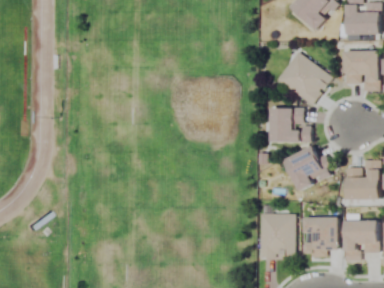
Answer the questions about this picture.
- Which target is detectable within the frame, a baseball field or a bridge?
baseball field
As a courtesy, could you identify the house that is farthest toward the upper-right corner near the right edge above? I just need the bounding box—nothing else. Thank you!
[343,0,384,41]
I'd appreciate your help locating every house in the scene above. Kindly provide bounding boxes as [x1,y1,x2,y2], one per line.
[342,158,384,206]
[343,0,384,41]
[279,51,335,105]
[284,148,333,191]
[342,50,382,92]
[302,216,340,258]
[290,0,342,31]
[260,214,298,262]
[342,213,382,262]
[268,108,312,144]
